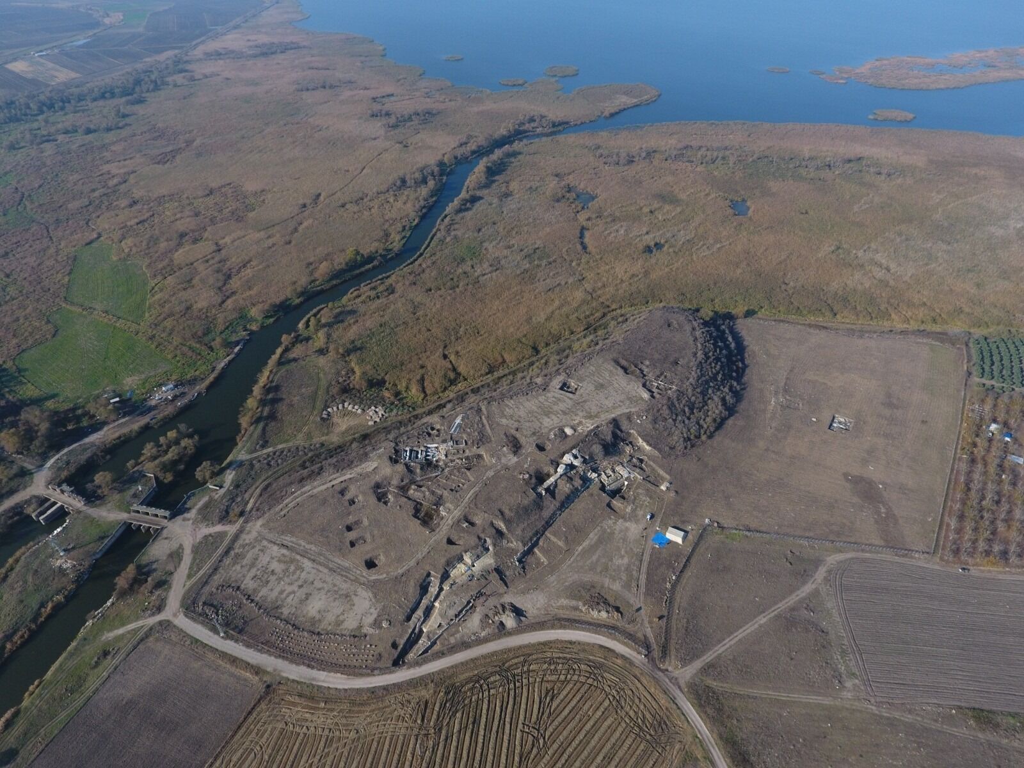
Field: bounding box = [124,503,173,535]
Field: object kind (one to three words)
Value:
bridge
